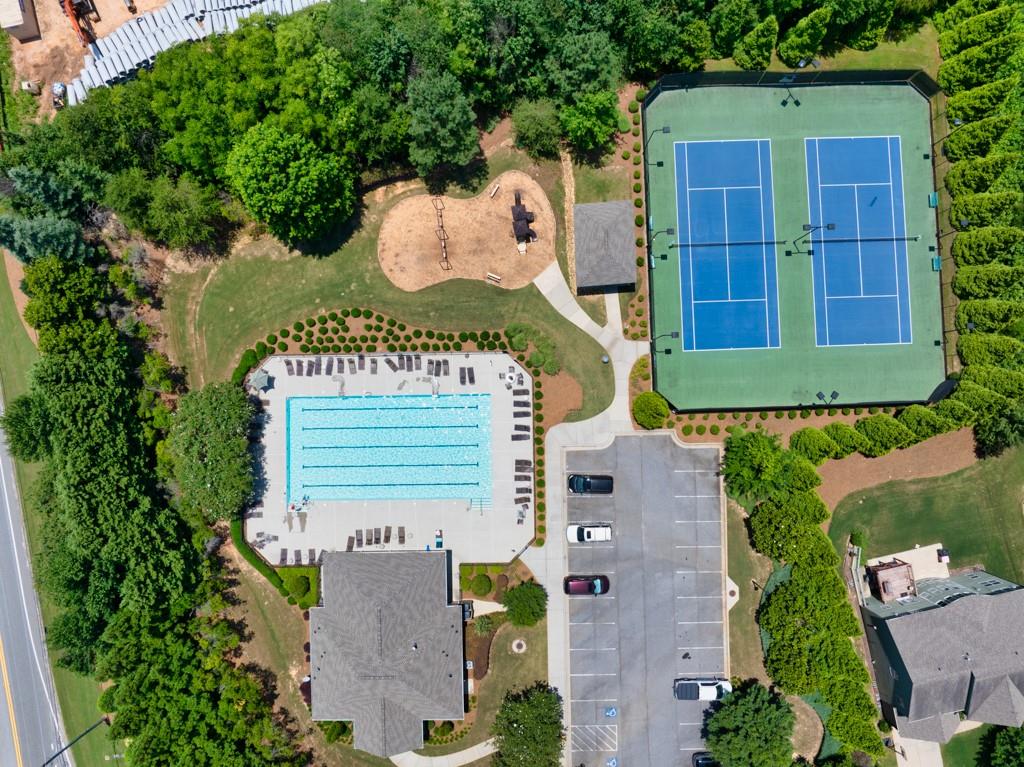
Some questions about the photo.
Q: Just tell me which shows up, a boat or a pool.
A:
pool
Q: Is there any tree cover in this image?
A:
Yes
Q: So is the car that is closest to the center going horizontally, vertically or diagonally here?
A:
horizontally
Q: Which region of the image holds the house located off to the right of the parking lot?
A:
bottom right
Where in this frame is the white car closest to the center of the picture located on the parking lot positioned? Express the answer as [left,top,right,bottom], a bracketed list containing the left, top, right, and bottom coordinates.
[568,526,611,546]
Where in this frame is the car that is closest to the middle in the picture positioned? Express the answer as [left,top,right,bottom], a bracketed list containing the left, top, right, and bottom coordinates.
[568,474,614,496]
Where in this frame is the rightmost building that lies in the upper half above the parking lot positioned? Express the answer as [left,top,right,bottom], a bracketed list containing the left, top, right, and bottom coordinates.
[573,201,637,288]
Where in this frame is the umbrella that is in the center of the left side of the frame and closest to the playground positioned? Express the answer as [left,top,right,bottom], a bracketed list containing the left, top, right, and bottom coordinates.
[250,369,271,390]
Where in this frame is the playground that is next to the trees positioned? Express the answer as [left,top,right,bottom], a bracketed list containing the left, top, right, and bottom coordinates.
[379,171,556,291]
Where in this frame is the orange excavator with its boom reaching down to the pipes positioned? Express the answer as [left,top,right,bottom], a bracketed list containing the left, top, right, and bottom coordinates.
[61,0,98,51]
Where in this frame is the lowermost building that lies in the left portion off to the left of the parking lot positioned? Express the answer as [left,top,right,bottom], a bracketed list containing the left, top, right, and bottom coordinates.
[309,551,465,761]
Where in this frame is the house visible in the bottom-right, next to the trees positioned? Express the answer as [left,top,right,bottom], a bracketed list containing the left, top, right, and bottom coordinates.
[859,557,1024,746]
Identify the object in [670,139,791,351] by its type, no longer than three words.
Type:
tennis court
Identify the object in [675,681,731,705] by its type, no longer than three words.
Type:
truck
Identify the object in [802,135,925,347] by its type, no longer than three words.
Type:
tennis court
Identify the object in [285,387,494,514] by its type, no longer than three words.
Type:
swimming pool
